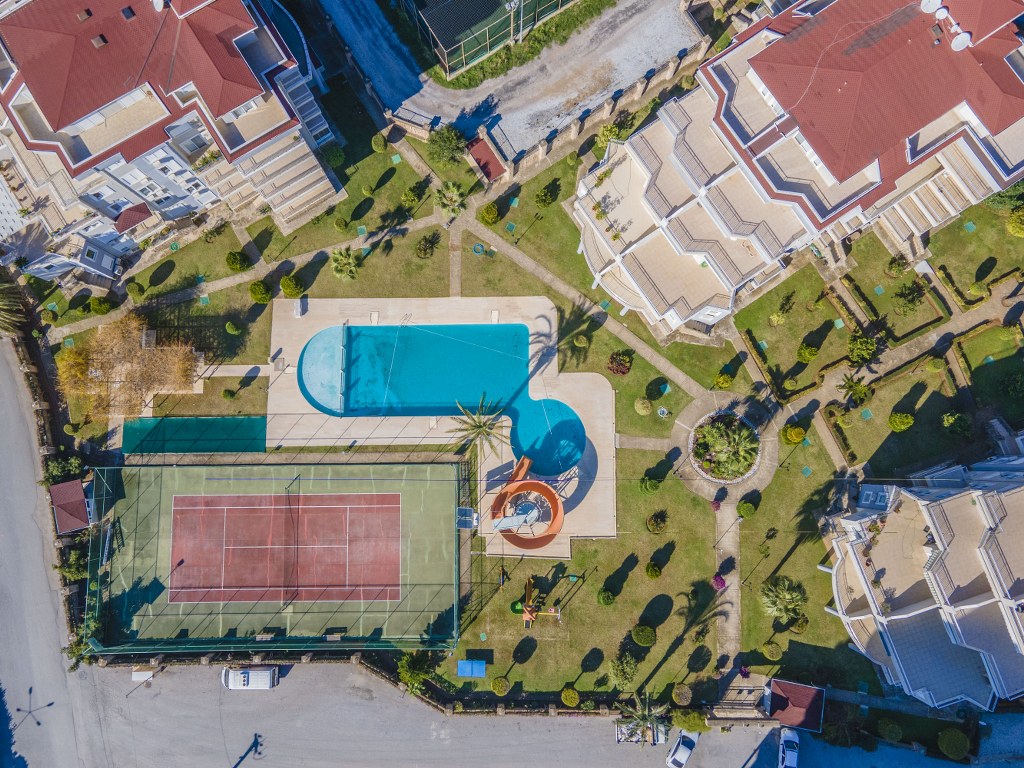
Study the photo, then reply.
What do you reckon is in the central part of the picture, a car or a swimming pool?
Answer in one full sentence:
Looking in the central part of the picture, you will find a swimming pool.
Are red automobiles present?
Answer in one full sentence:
No, no red automobile is visible in the scene.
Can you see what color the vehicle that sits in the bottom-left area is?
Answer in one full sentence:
The vehicle that sits in the bottom-left area is white.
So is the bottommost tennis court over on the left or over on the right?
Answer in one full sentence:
You can find the bottommost tennis court on the left side of the picture.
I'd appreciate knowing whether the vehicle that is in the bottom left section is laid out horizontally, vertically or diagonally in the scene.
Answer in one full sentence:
The vehicle that is in the bottom left section is laid out horizontally.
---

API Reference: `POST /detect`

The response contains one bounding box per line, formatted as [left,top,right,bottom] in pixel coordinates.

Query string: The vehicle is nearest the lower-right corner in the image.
[778,732,802,768]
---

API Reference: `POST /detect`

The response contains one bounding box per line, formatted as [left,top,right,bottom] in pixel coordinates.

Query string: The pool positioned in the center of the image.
[267,296,616,558]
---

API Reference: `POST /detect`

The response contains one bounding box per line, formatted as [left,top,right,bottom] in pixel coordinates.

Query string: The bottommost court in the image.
[84,462,460,654]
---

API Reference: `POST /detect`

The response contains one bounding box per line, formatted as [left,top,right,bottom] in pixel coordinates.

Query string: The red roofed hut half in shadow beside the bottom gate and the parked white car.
[762,676,826,733]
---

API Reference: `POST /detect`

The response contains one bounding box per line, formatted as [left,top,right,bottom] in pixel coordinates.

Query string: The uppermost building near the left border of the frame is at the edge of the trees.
[0,0,341,277]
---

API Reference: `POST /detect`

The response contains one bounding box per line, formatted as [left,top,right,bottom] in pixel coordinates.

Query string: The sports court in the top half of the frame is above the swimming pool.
[400,0,574,79]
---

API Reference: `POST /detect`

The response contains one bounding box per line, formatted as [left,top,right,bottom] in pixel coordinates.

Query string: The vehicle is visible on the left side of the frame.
[223,667,281,692]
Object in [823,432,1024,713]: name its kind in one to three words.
building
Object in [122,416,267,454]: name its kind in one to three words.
sports court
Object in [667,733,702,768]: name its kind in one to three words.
car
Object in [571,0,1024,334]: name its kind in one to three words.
building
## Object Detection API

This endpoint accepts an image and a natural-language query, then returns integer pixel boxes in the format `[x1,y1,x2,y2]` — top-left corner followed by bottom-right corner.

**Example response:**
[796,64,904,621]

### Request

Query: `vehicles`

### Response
[616,722,663,744]
[667,733,702,768]
[223,667,281,692]
[778,732,802,768]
